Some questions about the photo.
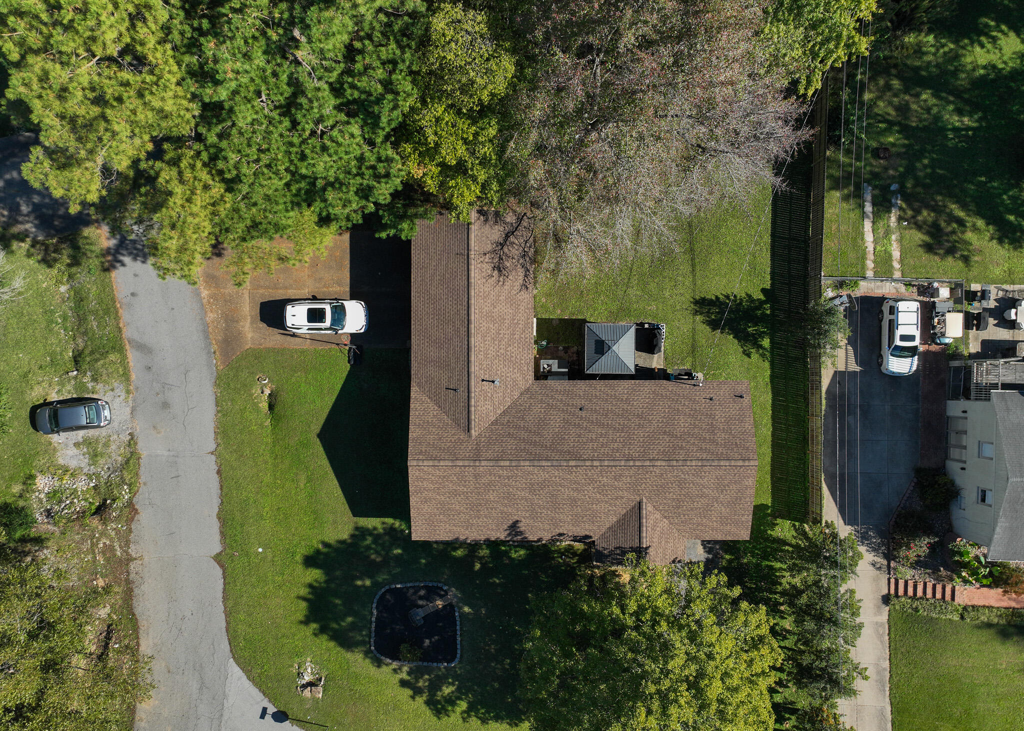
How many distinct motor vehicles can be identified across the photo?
four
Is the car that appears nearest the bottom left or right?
left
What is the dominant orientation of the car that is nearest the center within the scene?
from side to side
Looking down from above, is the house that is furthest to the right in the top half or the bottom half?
bottom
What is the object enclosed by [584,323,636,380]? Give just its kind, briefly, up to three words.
gazebo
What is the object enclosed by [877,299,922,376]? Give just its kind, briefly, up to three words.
car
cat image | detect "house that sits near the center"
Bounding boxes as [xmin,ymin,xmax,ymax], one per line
[407,207,761,570]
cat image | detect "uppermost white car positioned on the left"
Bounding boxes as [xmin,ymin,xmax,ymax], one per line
[286,297,370,337]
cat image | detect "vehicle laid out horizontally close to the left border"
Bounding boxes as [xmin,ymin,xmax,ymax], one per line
[37,399,114,437]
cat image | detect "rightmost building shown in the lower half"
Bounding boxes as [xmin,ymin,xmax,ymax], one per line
[945,389,1024,562]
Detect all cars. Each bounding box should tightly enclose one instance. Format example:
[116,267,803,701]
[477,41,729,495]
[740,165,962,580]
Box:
[286,297,370,337]
[877,299,922,376]
[37,399,114,437]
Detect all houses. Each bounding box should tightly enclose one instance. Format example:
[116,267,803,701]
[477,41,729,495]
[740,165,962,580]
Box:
[407,207,761,570]
[945,389,1024,562]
